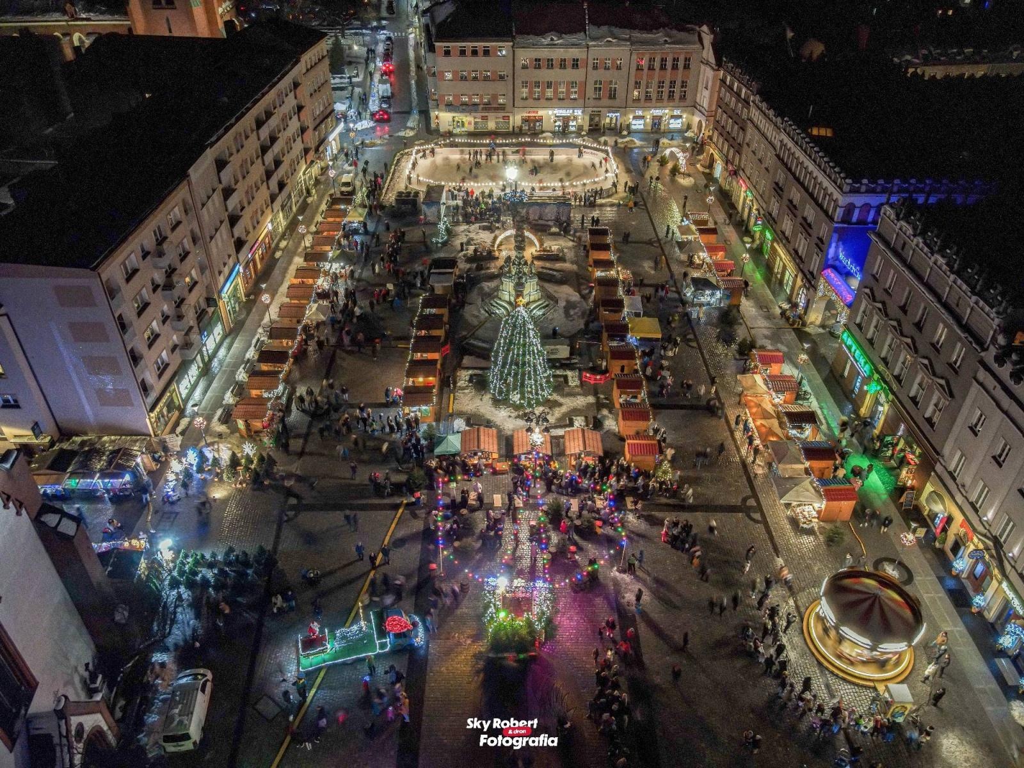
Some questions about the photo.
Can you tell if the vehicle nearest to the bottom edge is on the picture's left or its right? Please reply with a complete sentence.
You can find the vehicle nearest to the bottom edge on the left side of the picture.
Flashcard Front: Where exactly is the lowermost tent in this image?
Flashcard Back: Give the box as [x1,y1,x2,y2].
[102,532,170,588]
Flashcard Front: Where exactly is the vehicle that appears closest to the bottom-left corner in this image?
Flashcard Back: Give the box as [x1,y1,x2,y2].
[161,661,218,744]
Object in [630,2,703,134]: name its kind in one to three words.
house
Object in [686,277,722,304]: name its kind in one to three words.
tent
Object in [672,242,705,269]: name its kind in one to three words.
tent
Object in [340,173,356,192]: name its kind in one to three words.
vehicle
